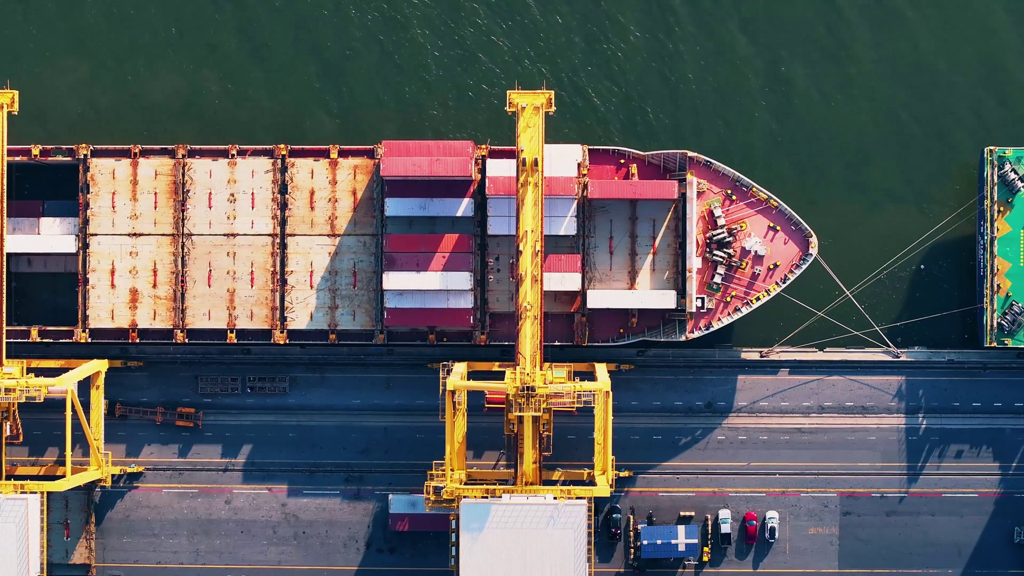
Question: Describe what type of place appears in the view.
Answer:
port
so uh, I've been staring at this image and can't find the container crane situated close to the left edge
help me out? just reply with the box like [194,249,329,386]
[0,82,145,576]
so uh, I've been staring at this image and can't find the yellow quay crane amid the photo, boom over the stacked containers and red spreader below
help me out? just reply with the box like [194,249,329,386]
[416,78,636,576]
